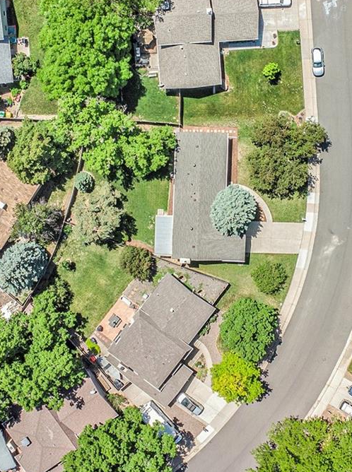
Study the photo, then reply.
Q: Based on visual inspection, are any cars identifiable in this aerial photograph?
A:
Yes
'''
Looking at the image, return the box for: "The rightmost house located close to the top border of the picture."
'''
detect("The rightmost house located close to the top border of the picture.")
[156,0,258,88]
